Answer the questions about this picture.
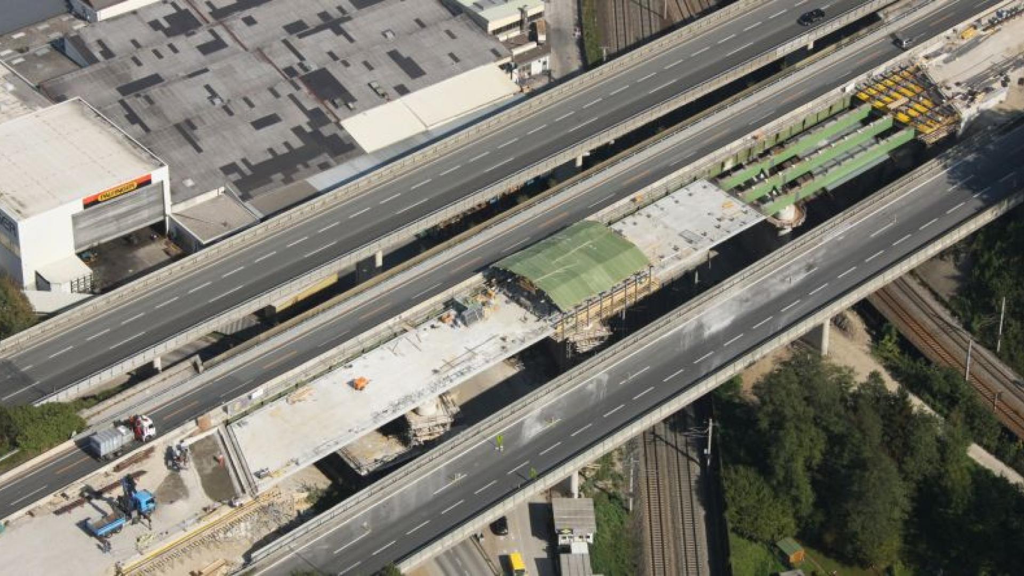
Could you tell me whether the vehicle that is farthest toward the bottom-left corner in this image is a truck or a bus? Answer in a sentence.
Specifically, the vehicle that is farthest toward the bottom-left corner is a truck.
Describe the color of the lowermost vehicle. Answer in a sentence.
In this view, the lowermost vehicle is yellow.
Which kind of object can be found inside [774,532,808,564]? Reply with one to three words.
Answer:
shed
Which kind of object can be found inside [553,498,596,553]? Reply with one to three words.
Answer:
house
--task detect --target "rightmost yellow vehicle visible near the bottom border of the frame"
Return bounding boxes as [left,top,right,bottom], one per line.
[508,550,530,576]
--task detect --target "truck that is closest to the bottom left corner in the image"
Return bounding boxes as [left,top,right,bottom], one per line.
[87,472,156,537]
